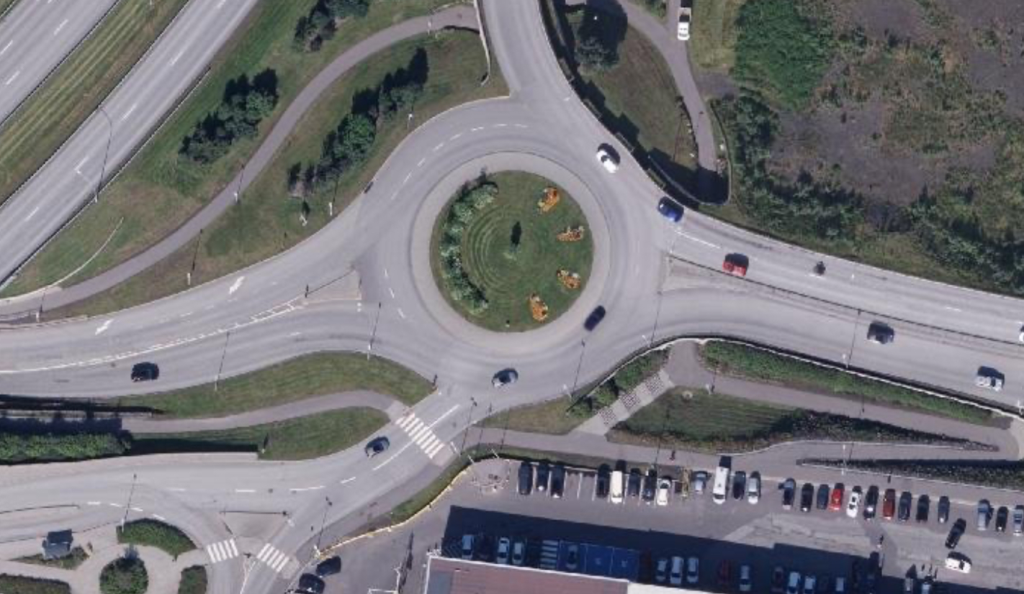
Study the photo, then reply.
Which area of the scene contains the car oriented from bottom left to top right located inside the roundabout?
center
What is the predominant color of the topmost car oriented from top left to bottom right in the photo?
white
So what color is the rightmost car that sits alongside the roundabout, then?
blue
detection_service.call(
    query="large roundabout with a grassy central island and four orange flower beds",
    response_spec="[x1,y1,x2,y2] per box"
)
[355,95,667,408]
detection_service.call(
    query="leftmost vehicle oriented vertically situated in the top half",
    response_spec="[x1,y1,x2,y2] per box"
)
[678,10,691,44]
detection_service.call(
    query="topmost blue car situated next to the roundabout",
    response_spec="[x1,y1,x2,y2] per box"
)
[655,201,683,223]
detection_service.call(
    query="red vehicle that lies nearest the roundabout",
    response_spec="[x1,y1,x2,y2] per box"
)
[721,259,747,275]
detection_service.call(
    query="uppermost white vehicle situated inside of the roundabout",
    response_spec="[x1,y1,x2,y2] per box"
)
[595,146,619,173]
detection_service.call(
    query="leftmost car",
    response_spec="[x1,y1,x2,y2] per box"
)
[131,365,159,381]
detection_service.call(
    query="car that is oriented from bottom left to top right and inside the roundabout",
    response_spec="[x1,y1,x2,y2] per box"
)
[583,304,606,332]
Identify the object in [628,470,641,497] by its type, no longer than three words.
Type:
vehicle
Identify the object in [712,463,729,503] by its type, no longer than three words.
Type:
vehicle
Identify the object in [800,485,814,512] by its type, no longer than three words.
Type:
car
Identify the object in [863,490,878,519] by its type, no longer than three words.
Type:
car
